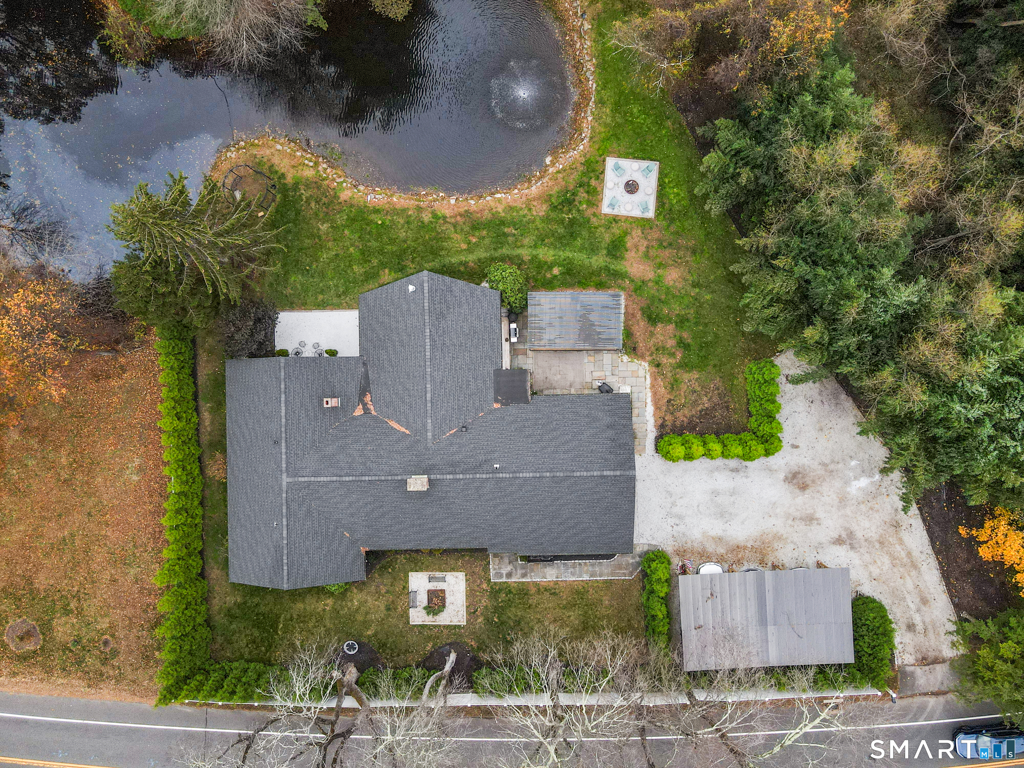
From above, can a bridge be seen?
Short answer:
No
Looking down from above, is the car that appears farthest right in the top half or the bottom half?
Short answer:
bottom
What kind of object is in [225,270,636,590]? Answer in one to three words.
house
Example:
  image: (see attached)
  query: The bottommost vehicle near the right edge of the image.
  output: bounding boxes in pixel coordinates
[954,724,1024,762]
